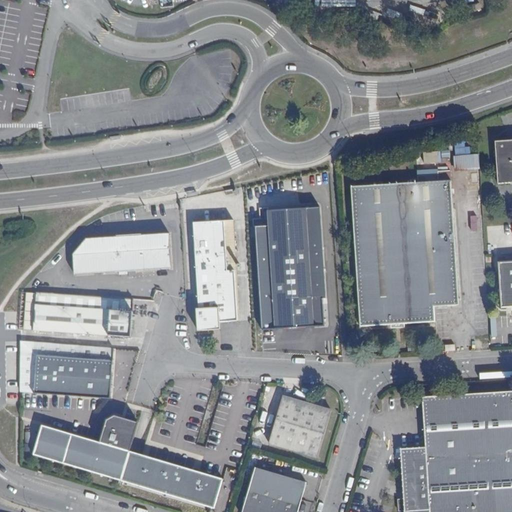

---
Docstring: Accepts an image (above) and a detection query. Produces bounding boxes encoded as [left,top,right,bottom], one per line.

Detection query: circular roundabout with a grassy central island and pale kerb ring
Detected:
[238,50,352,165]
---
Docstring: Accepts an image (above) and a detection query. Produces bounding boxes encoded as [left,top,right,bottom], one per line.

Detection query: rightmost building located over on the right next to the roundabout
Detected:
[350,180,458,326]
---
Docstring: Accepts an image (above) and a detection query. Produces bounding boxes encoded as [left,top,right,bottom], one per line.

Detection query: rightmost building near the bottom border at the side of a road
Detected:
[422,391,512,512]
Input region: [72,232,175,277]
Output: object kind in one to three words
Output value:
building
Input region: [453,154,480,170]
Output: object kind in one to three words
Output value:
shed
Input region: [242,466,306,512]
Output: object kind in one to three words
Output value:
building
